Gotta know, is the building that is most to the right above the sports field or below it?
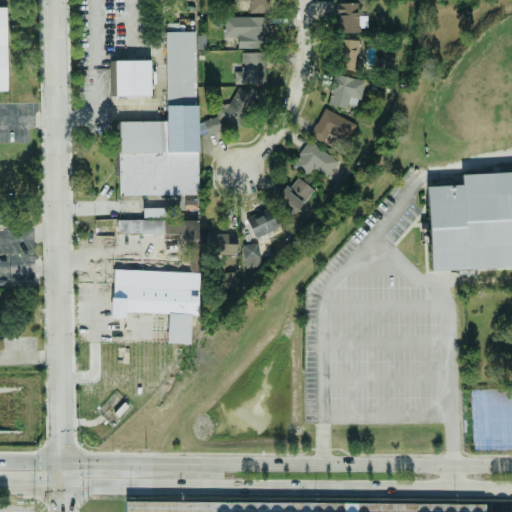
below it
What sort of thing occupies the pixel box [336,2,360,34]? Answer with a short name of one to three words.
house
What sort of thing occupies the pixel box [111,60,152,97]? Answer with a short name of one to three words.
building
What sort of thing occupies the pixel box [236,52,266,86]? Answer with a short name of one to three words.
house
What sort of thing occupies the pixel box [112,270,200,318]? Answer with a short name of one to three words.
building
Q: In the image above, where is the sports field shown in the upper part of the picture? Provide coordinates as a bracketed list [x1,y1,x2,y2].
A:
[441,16,512,145]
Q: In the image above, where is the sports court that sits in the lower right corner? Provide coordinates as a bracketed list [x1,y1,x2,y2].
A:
[472,390,512,451]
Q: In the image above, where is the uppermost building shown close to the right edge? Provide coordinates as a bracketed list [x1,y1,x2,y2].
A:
[422,172,512,271]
